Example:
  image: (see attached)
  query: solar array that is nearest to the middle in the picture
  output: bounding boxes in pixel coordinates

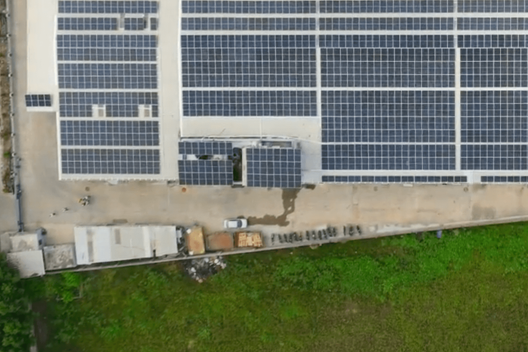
[247,148,301,187]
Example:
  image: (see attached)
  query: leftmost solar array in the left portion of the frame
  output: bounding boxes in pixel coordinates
[25,94,52,106]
